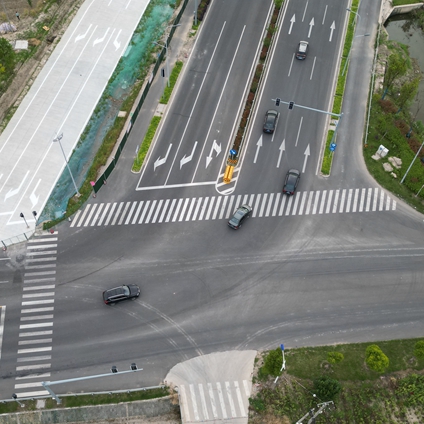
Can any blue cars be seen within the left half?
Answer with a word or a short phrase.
No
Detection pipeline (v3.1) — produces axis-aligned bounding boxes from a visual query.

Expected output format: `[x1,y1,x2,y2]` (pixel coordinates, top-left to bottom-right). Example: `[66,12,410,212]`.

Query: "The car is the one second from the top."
[262,109,280,135]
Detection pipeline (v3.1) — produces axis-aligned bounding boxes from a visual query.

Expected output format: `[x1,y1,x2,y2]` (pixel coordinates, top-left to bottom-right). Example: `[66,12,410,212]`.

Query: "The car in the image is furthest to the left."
[102,284,140,307]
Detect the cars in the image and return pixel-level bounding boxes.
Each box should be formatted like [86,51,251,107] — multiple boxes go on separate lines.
[102,284,140,307]
[225,203,254,232]
[262,109,280,135]
[295,41,310,61]
[282,168,301,197]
